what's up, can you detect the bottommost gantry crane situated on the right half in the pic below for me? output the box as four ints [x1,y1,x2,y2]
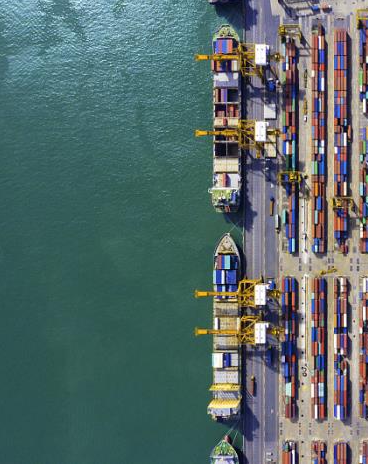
[194,312,282,344]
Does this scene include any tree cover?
No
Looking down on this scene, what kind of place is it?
port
